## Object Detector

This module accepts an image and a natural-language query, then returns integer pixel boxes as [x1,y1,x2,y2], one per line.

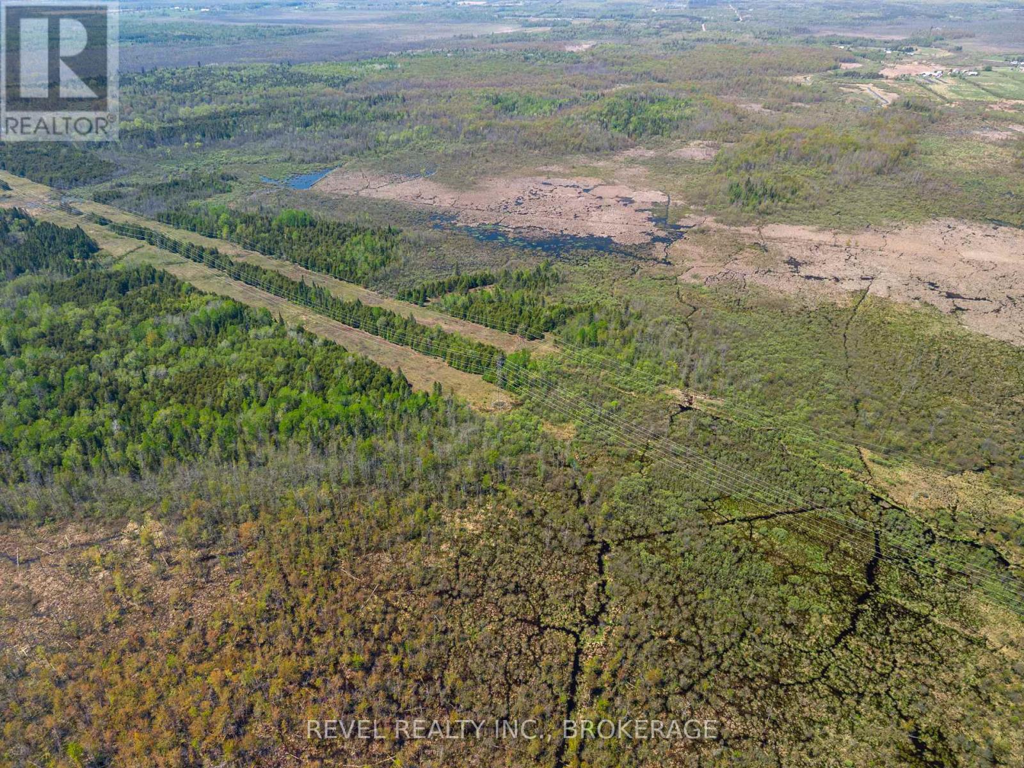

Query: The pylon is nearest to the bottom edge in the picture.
[488,354,509,409]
